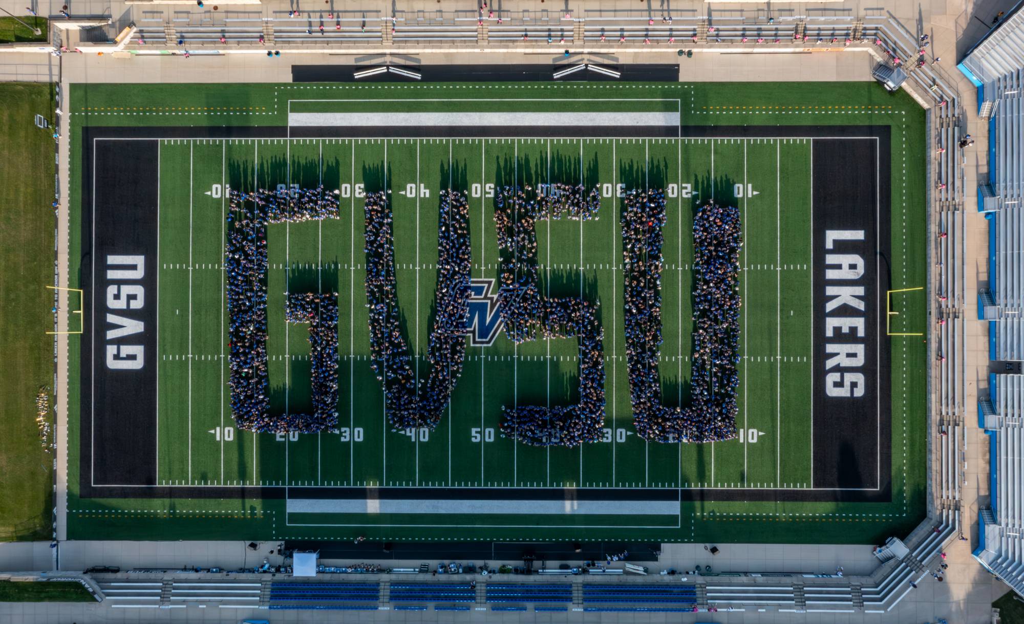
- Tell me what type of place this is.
sports ground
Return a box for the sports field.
[66,81,927,545]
